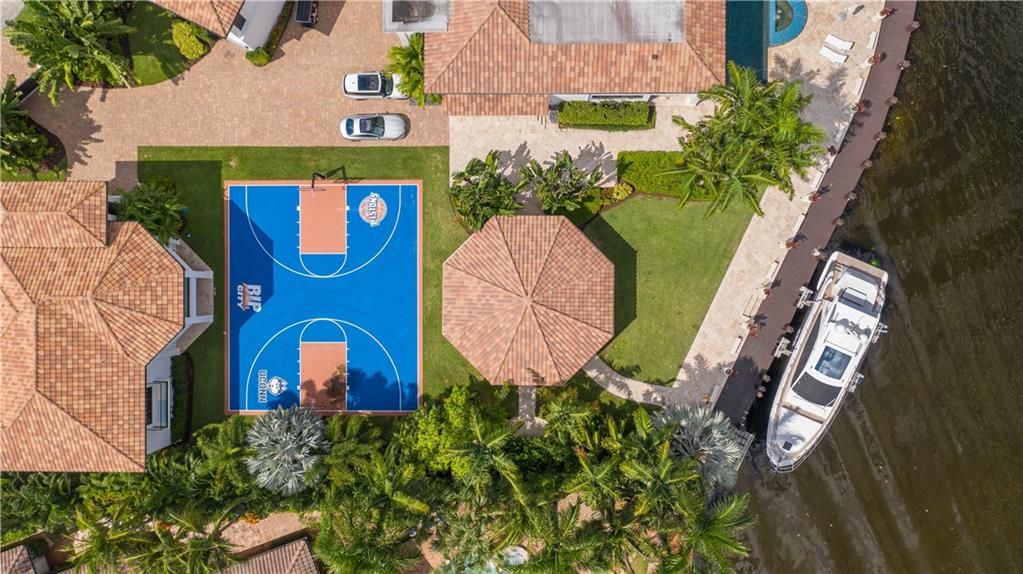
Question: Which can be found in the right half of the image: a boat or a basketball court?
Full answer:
The feature located in the right half of the image is a boat.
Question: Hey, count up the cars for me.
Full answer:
The number of cars here is 2.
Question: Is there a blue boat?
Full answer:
No, no blue boat is visible in the scene.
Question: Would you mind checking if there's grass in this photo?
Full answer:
Yes, grass shows up in the scene.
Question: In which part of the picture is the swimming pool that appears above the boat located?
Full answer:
The swimming pool that appears above the boat is located in the top right region of the scene.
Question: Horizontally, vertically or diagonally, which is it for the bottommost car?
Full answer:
In this picture, the bottommost car is oriented horizontally.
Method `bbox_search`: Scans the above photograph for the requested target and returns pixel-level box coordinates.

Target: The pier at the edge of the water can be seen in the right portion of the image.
[713,0,917,427]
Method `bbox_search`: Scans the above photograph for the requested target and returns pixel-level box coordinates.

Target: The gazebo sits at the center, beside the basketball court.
[442,215,615,386]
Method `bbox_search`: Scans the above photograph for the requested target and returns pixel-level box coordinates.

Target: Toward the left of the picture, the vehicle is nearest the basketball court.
[340,110,407,142]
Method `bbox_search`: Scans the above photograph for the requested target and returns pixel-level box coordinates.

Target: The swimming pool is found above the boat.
[726,0,811,83]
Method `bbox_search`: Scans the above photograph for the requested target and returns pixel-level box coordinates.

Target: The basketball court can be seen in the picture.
[225,181,423,415]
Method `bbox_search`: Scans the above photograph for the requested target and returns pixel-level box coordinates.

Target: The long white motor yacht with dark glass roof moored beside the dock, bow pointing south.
[768,253,889,475]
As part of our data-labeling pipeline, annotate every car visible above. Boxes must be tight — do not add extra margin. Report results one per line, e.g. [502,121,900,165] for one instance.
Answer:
[340,110,407,142]
[343,69,409,102]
